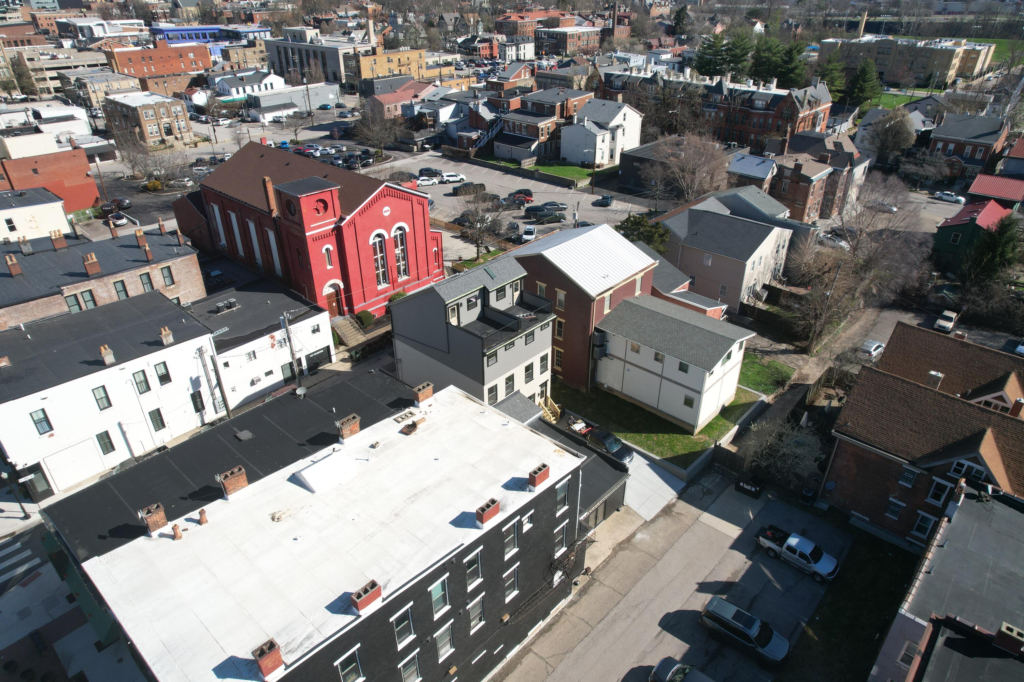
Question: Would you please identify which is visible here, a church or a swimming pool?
church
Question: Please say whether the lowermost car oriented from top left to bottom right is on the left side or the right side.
right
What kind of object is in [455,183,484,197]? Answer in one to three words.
vehicle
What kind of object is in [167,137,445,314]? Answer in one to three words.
church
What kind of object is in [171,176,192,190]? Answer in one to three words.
car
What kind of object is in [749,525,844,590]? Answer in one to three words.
truck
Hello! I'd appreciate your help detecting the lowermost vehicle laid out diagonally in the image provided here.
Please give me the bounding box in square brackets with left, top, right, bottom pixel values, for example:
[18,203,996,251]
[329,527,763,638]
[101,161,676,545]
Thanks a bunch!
[699,593,791,668]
